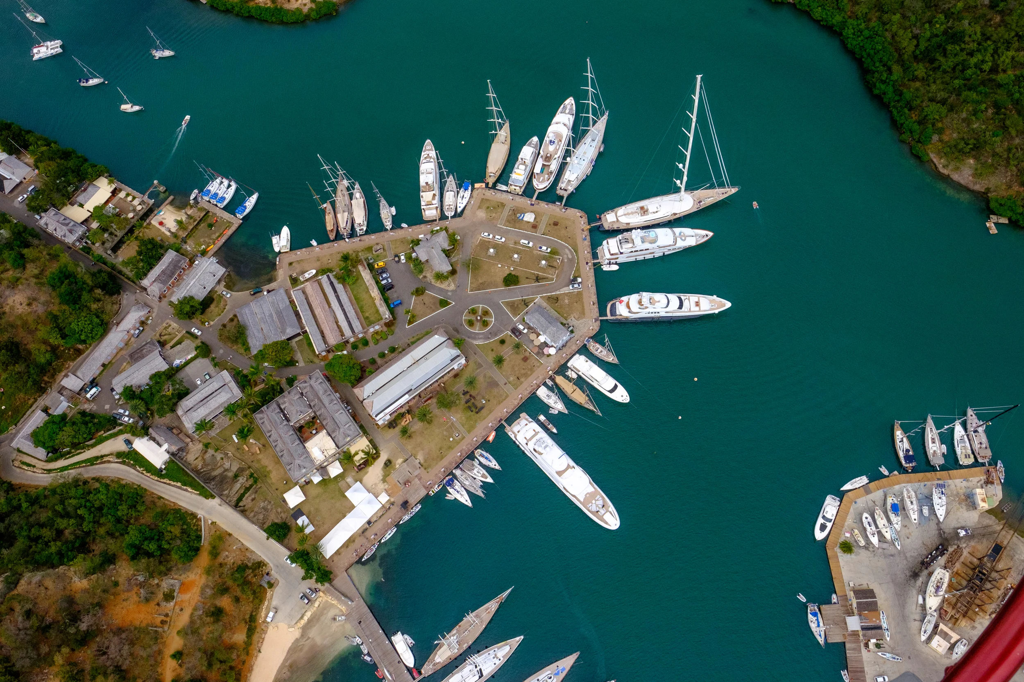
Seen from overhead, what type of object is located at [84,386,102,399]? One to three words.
vehicle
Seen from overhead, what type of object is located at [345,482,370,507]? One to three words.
tent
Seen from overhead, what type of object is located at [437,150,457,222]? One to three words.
boat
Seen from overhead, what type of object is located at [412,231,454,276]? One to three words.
house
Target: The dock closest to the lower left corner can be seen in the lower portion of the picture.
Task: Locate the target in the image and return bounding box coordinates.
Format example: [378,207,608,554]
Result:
[332,572,409,682]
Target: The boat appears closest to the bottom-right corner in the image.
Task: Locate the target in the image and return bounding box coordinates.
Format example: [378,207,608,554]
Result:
[948,638,969,660]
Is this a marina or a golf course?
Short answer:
marina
